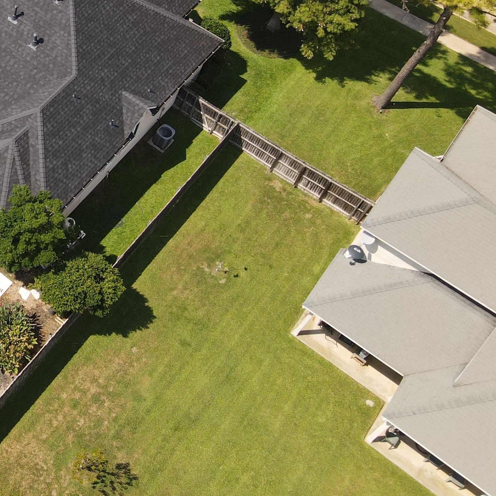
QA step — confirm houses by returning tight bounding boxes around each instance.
[0,0,224,234]
[295,105,496,496]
